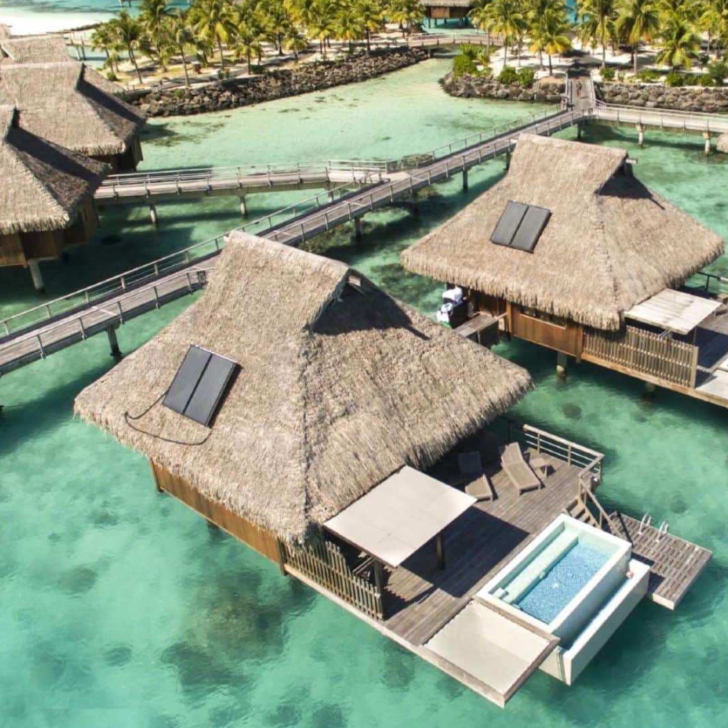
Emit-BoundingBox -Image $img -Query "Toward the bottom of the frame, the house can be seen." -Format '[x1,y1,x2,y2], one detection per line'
[75,229,715,701]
